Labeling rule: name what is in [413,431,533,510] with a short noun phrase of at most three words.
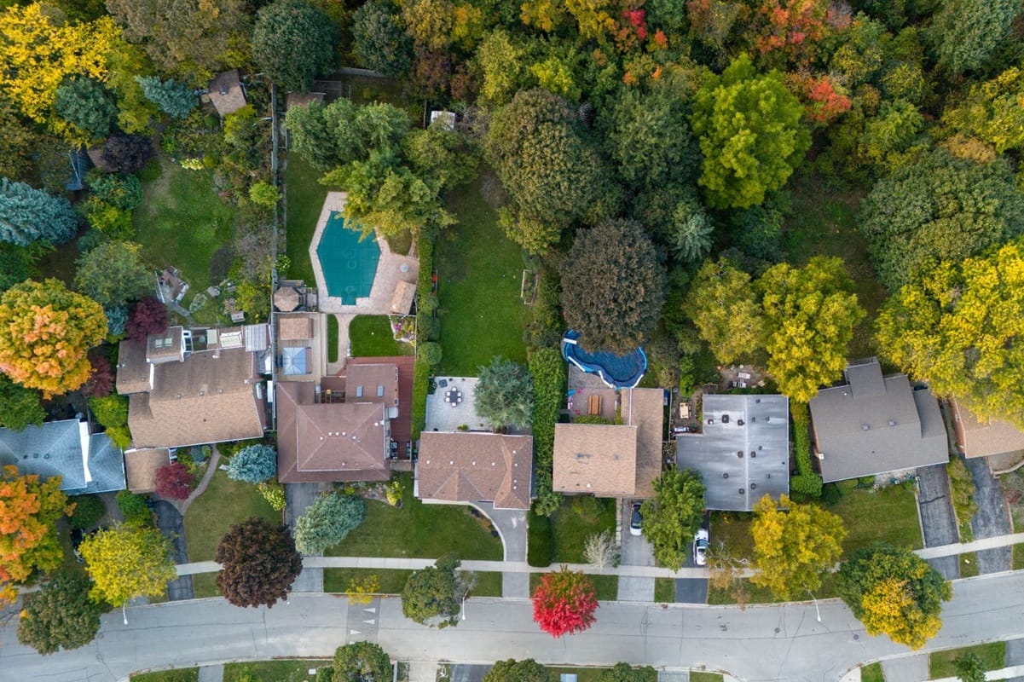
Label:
house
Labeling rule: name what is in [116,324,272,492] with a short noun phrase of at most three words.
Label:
house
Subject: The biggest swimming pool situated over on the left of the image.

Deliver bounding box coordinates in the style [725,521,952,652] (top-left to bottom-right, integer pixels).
[313,208,384,309]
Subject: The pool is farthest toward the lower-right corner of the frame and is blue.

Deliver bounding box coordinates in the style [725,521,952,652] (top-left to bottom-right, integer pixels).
[561,328,645,389]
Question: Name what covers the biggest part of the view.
trees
